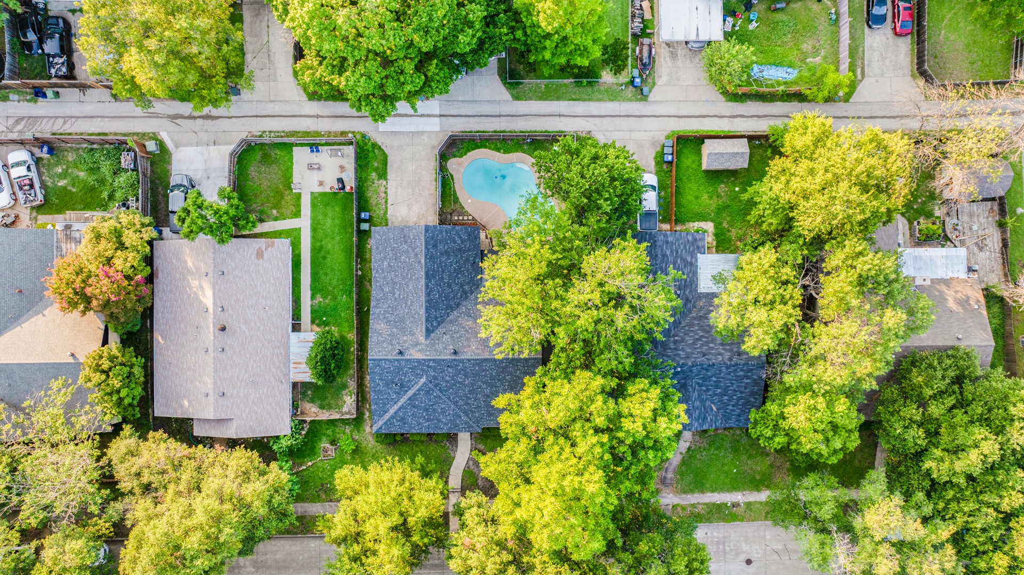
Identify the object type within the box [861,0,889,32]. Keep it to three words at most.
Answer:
car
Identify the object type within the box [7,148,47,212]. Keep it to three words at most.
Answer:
truck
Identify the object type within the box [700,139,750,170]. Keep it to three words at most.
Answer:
shed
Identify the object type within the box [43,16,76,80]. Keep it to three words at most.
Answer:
truck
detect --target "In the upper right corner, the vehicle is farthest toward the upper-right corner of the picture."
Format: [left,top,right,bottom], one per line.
[885,0,914,38]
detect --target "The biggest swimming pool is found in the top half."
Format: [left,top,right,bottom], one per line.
[462,158,556,236]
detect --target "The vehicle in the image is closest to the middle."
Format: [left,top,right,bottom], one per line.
[634,174,661,231]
